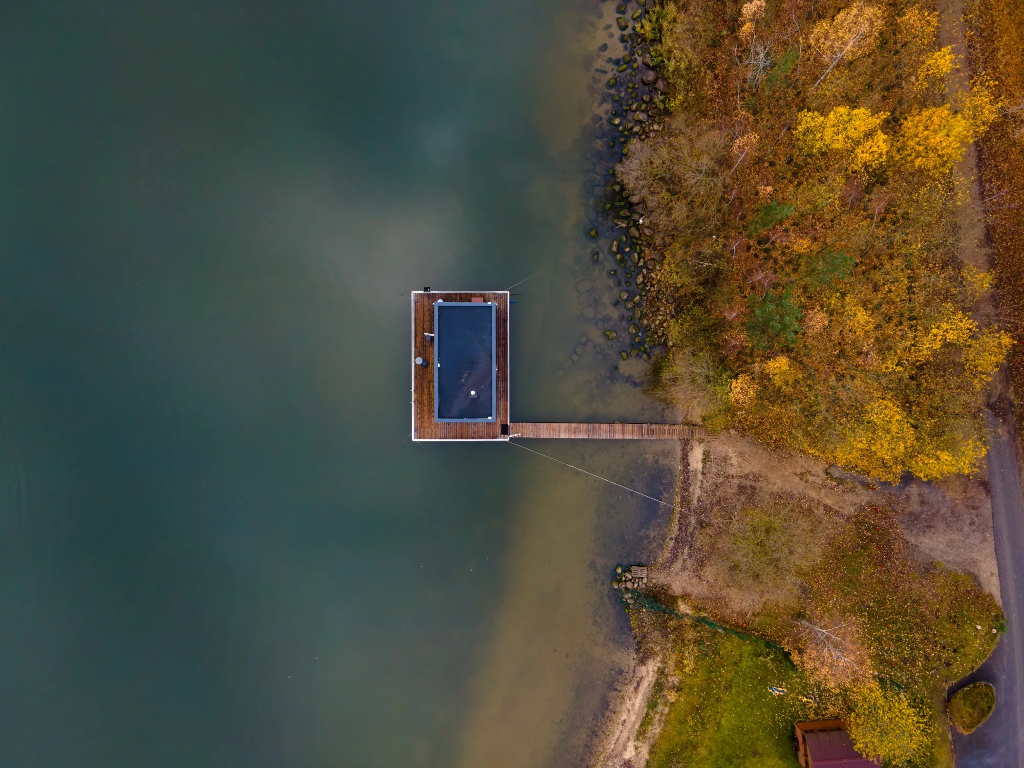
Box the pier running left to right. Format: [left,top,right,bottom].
[510,423,707,440]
